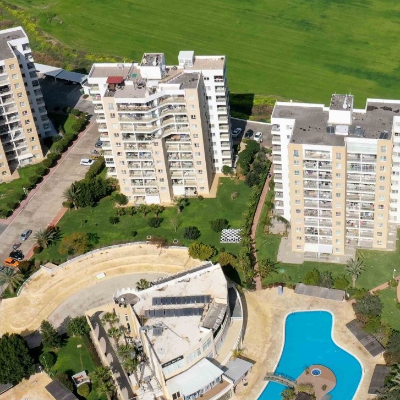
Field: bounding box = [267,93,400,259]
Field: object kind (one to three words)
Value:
building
